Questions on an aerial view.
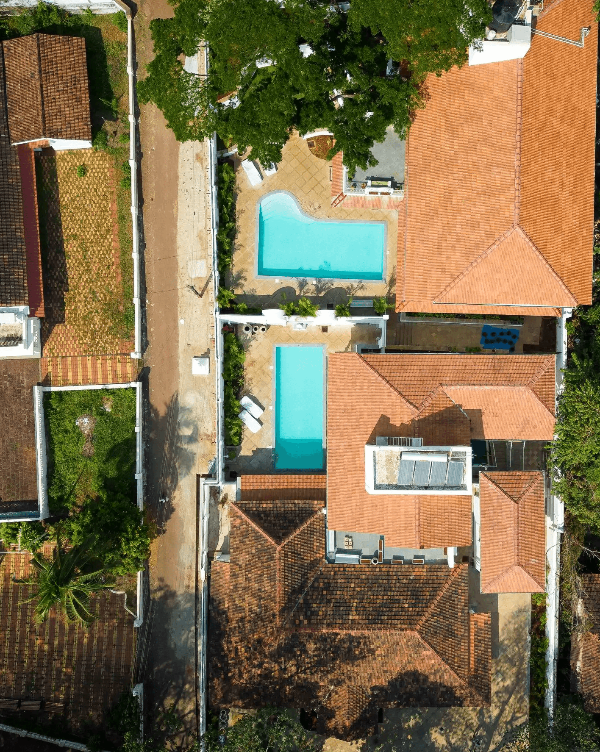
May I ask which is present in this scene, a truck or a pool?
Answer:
pool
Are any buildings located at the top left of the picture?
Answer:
Yes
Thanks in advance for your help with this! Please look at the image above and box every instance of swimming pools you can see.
[271,343,327,472]
[253,189,389,285]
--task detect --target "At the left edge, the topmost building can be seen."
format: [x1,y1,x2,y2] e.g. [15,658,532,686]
[2,33,92,157]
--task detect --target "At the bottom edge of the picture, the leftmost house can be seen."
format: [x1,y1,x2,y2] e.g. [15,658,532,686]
[208,471,492,742]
